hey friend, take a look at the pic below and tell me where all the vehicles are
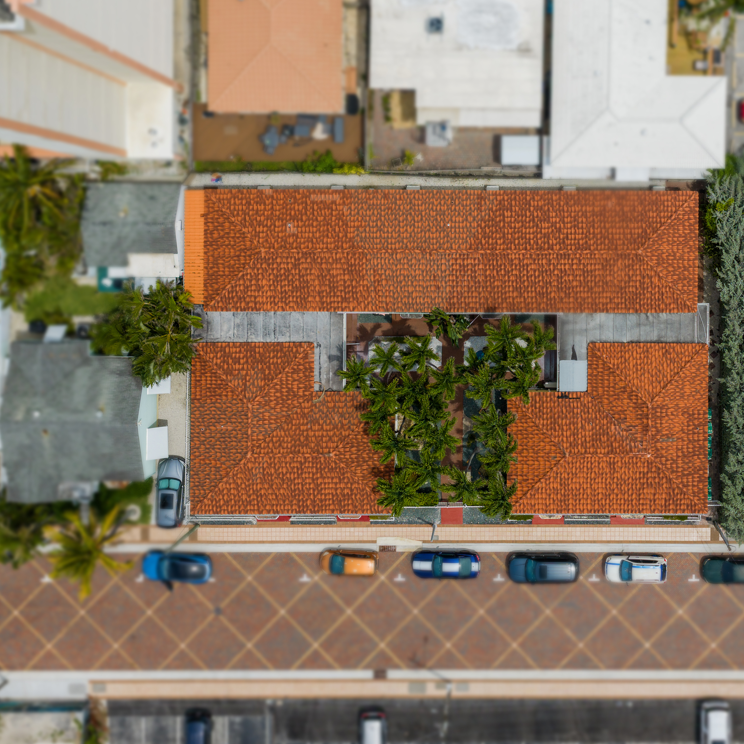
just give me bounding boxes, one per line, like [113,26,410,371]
[602,549,668,587]
[359,702,387,744]
[184,704,216,744]
[507,546,578,586]
[321,544,379,578]
[698,695,731,744]
[154,454,188,527]
[412,545,481,581]
[699,551,744,587]
[144,546,215,585]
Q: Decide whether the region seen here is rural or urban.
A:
urban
